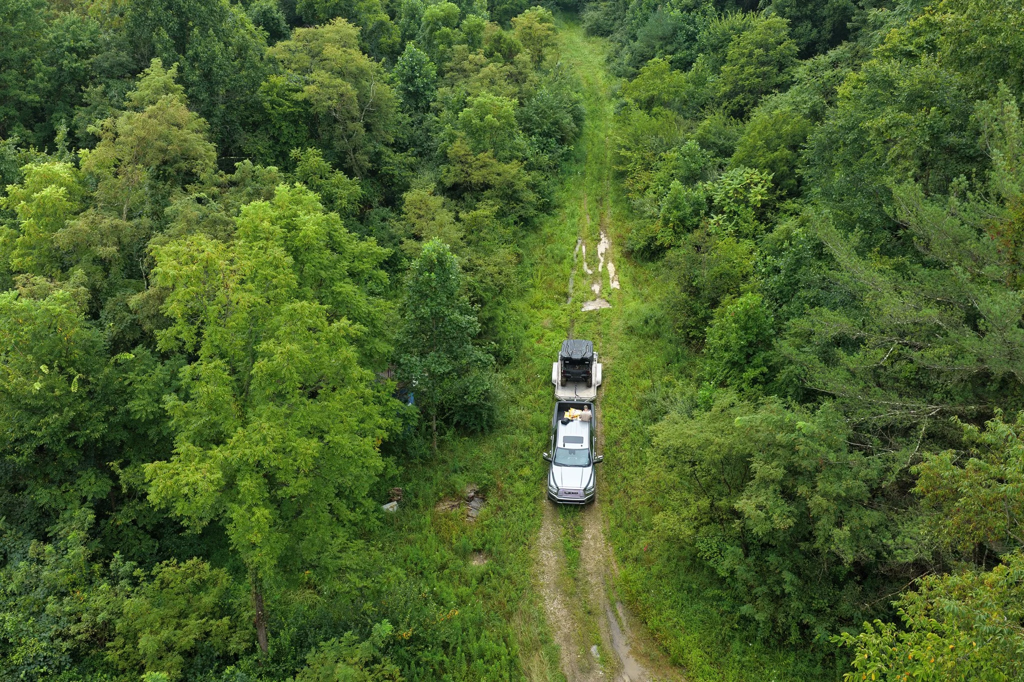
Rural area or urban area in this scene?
rural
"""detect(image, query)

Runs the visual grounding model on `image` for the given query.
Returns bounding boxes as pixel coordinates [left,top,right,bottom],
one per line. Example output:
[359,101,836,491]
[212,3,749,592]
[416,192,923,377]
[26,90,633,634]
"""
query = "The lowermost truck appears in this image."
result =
[541,403,604,504]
